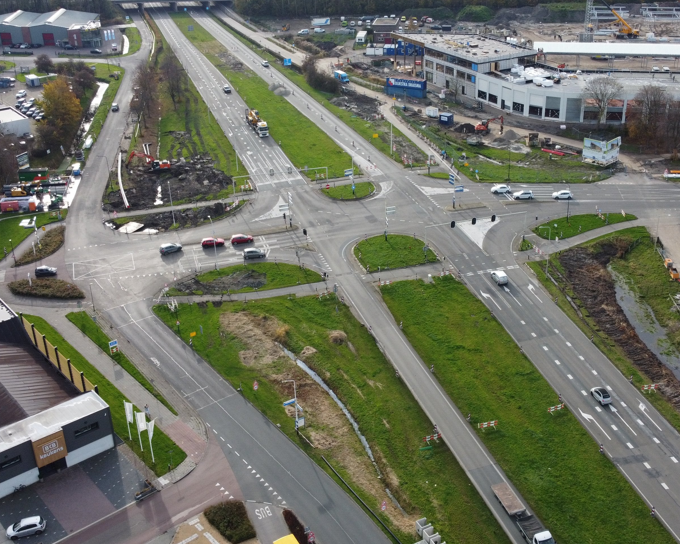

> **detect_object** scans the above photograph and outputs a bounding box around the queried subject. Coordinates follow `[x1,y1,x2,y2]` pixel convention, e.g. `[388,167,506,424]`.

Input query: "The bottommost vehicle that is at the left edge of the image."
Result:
[0,515,50,540]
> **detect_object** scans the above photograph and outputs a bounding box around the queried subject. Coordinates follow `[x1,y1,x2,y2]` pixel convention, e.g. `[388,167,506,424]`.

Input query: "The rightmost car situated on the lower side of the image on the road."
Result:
[586,383,617,404]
